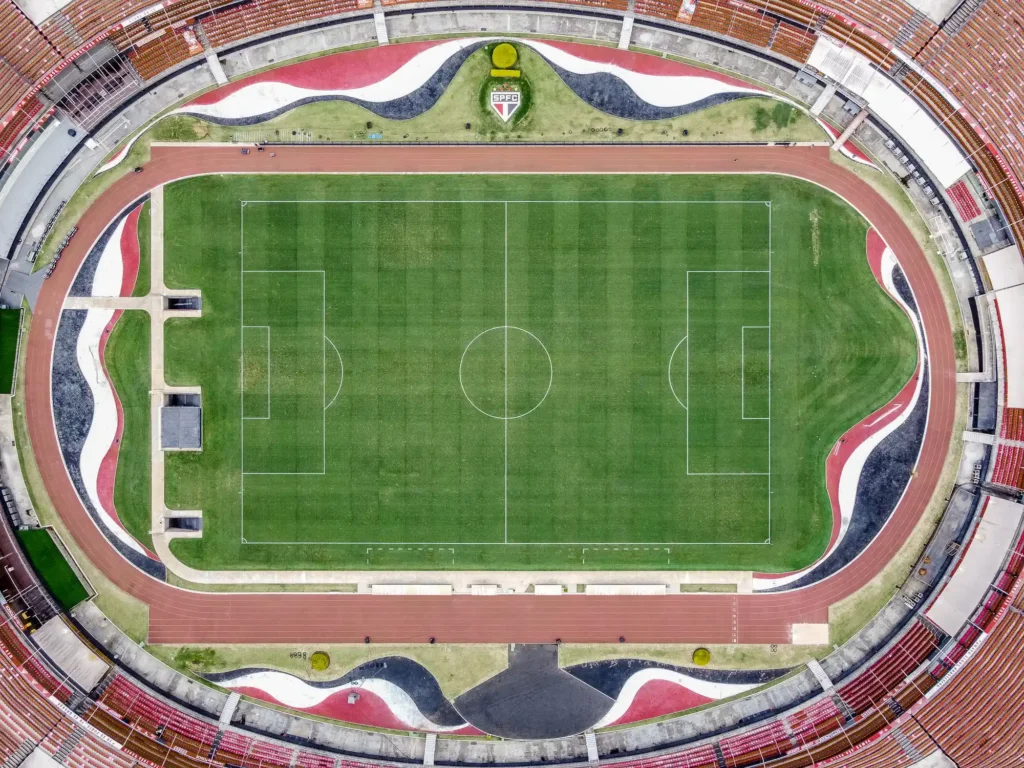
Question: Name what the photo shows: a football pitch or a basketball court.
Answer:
football pitch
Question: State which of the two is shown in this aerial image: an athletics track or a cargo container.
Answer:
athletics track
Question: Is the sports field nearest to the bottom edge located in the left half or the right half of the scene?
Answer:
left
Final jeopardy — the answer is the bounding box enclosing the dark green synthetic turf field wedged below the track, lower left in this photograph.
[18,526,93,610]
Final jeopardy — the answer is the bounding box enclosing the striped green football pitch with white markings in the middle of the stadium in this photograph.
[64,175,919,592]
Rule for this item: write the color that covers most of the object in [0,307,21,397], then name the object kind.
green sports field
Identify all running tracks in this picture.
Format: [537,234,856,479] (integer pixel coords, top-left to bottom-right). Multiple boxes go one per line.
[25,143,956,644]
